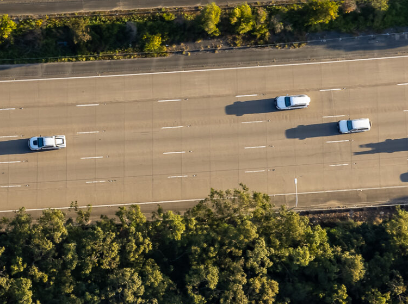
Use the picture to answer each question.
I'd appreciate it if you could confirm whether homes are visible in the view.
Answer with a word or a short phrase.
No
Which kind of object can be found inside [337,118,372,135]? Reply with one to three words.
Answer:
car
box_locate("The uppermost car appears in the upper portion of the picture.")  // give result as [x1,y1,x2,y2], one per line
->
[273,95,310,110]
